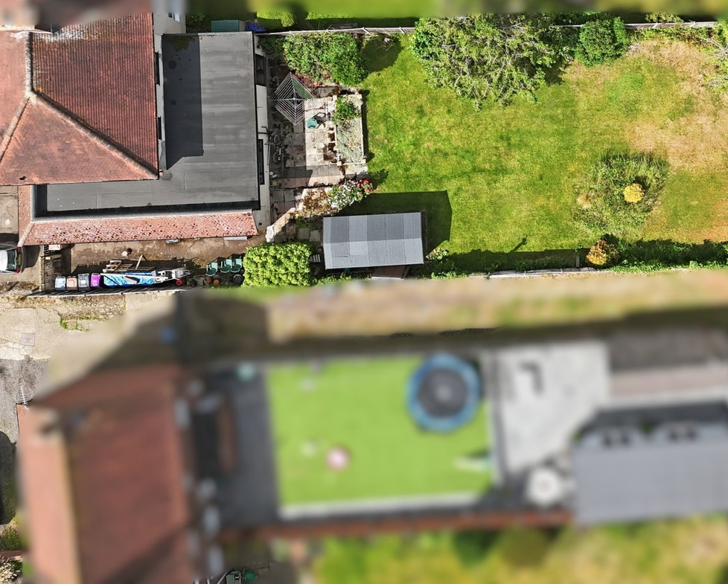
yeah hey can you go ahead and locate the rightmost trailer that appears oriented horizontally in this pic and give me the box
[100,263,194,290]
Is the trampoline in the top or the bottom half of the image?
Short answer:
bottom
